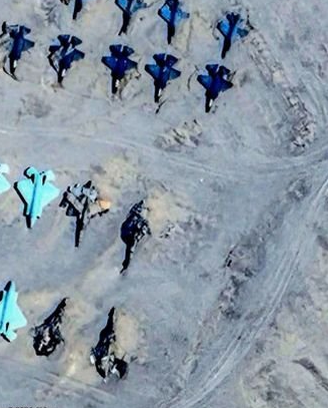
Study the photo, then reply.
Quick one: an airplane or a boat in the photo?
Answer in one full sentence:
The one in the frame is an airplane.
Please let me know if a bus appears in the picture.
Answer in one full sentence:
No, I can see no bus in this picture.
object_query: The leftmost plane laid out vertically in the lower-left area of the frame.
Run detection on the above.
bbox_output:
[0,281,26,342]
